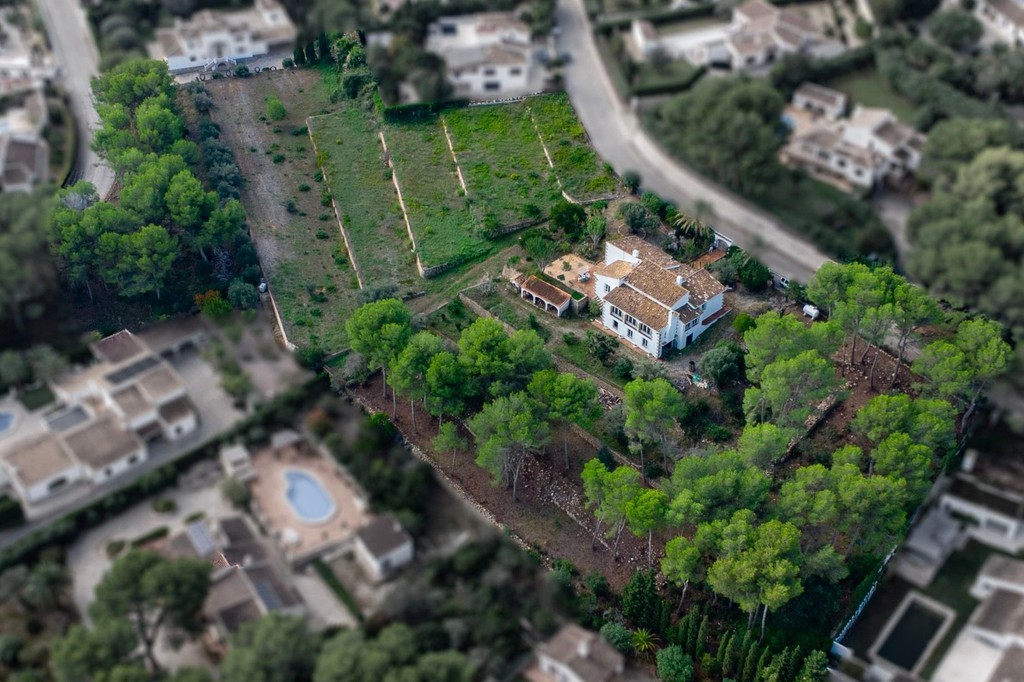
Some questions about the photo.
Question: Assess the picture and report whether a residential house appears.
Yes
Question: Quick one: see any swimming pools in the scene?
Yes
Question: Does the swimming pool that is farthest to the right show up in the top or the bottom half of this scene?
bottom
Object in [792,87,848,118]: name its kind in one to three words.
building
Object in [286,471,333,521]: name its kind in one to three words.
swimming pool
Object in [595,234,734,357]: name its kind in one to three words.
house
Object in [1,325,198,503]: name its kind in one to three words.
house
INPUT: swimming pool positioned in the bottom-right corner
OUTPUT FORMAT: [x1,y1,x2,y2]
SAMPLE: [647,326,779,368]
[869,591,956,674]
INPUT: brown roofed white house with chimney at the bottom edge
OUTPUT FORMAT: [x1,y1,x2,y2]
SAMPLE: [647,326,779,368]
[535,624,626,682]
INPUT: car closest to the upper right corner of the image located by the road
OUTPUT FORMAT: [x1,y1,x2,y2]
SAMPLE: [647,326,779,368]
[773,276,796,288]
